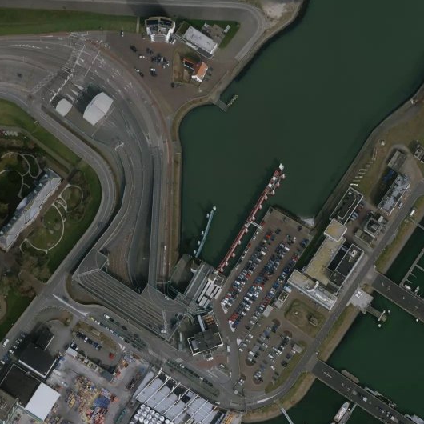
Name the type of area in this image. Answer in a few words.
port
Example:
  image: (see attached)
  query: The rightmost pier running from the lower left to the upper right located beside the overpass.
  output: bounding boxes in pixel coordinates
[217,165,285,271]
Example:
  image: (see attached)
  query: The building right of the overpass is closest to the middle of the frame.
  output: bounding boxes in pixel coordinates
[197,274,225,310]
